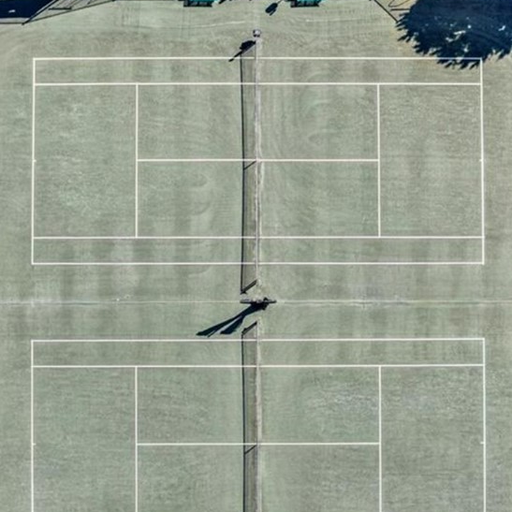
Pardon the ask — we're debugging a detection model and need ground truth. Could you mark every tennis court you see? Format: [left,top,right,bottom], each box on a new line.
[31,338,485,512]
[31,57,484,265]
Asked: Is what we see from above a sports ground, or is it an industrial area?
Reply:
sports ground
